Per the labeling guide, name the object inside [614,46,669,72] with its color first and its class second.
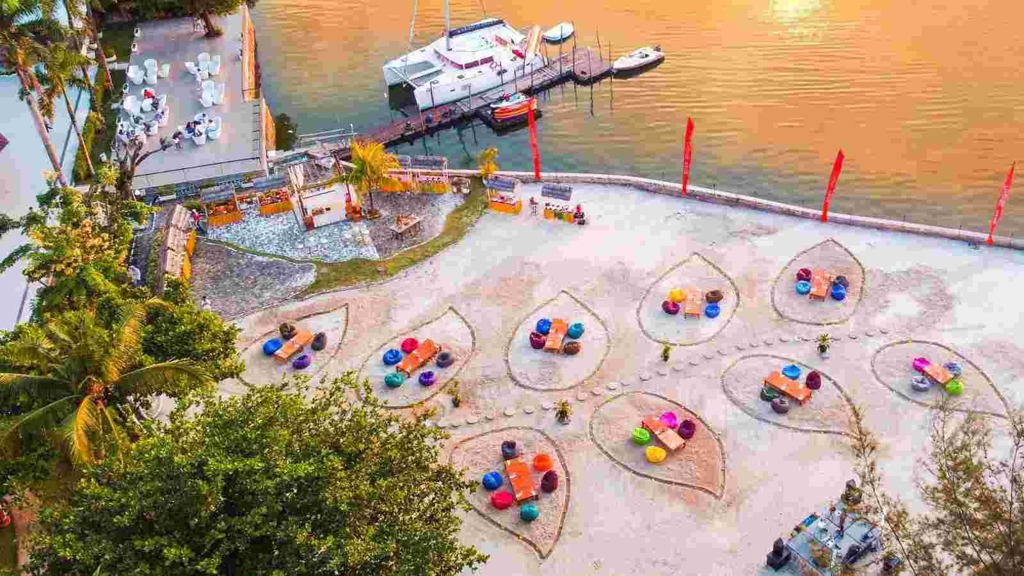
white boat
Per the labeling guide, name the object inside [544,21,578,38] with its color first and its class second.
white boat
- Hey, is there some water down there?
Yes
